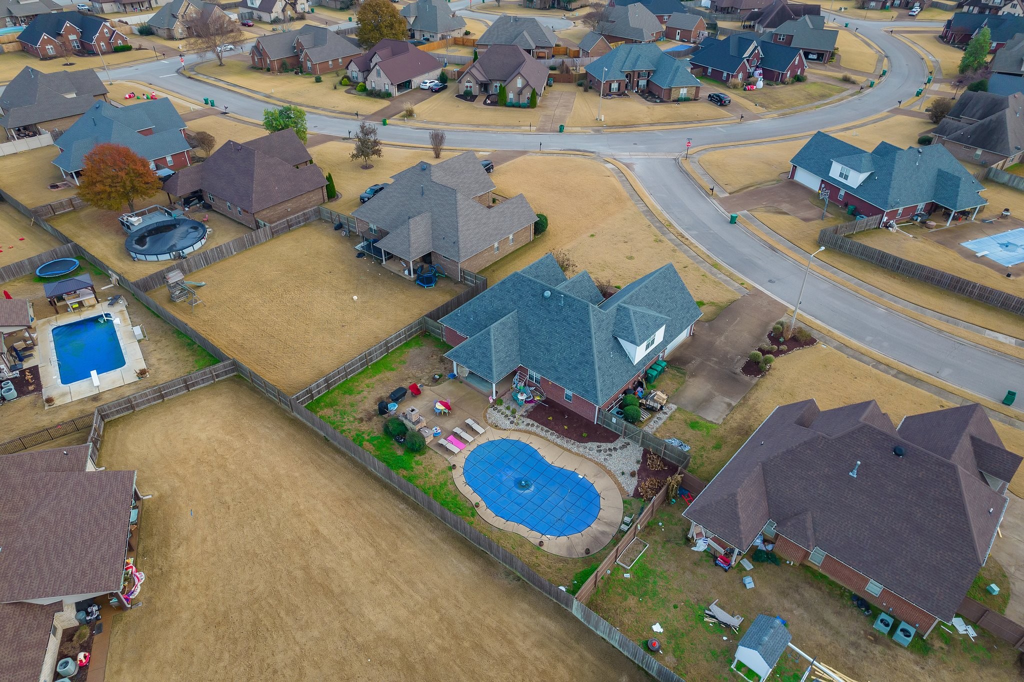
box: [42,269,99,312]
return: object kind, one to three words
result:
gazebo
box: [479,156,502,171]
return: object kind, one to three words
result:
car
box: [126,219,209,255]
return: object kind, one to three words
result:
swimming pool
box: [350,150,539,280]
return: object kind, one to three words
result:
house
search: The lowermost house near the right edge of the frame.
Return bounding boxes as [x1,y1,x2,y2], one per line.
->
[679,390,1024,638]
